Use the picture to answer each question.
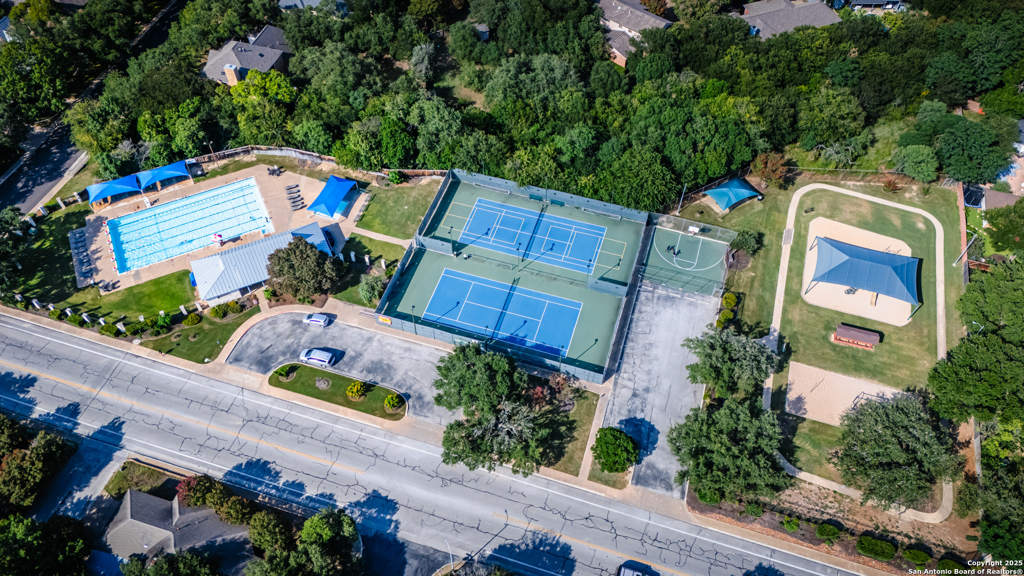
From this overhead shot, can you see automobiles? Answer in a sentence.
Yes, an automobile can be made out from above.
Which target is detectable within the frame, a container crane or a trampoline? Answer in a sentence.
Visible in the photo is a trampoline.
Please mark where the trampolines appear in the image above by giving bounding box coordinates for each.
[963,180,987,205]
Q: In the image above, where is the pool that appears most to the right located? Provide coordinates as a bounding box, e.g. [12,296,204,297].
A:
[996,162,1022,188]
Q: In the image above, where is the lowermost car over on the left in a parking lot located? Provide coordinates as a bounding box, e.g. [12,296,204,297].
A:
[299,347,333,367]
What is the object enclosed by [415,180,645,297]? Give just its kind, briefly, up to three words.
tennis court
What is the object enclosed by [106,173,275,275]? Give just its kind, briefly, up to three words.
swimming pool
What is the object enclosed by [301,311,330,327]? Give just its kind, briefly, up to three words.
car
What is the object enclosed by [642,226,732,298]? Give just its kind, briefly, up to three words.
basketball court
